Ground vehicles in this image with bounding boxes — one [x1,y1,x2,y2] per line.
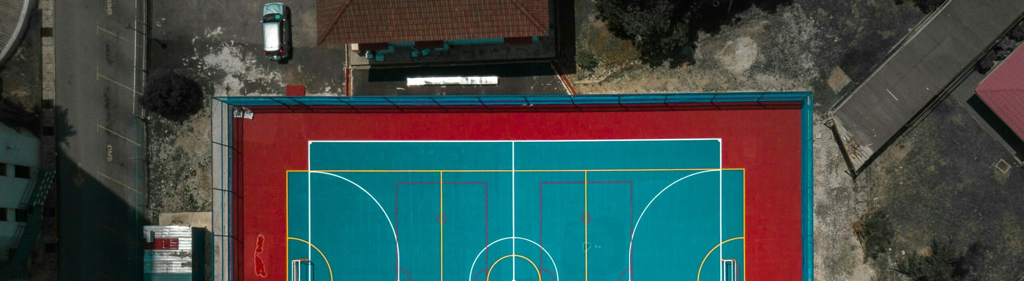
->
[260,4,290,62]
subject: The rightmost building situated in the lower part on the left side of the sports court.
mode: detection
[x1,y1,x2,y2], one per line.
[144,226,205,281]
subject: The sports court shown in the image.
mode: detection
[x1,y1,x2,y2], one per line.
[212,94,812,281]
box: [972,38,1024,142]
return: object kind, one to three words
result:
house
